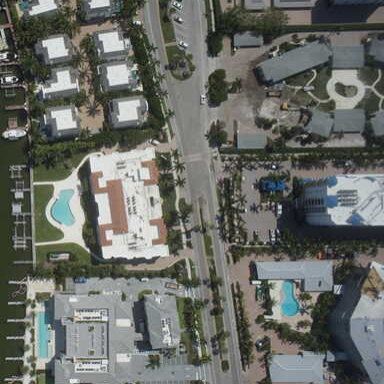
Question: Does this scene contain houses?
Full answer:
Yes, a house is visible in the scene.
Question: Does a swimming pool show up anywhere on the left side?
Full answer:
Yes, you'll find a swimming pool on the left side.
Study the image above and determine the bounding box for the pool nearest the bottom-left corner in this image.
[37,306,55,360]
